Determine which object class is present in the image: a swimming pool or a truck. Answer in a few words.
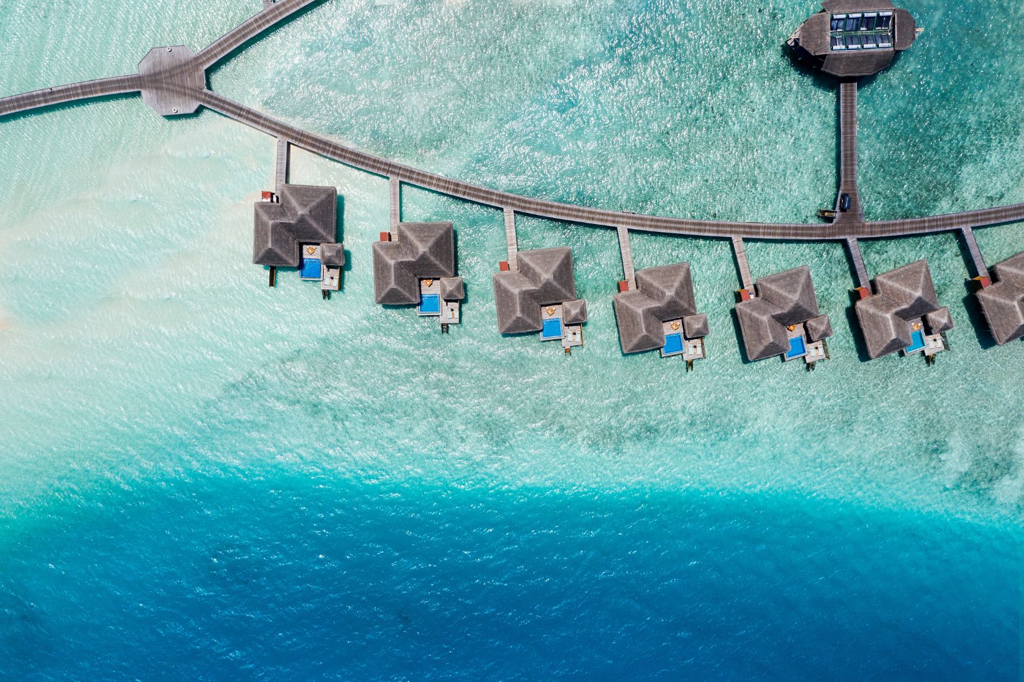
swimming pool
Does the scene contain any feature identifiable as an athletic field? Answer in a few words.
No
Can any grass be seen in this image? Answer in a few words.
No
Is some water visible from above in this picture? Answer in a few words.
Yes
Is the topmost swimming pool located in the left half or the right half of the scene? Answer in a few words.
left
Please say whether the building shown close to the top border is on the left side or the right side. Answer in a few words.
right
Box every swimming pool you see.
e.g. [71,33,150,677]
[539,316,564,341]
[299,257,324,280]
[418,292,442,315]
[780,334,808,361]
[658,331,685,356]
[898,327,927,355]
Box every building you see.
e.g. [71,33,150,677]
[969,249,1024,343]
[254,184,344,302]
[613,262,707,372]
[493,247,586,358]
[373,222,463,335]
[778,0,924,77]
[851,259,952,366]
[735,265,831,372]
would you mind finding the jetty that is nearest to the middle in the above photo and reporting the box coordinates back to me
[503,207,519,272]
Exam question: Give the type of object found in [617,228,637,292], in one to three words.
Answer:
pier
